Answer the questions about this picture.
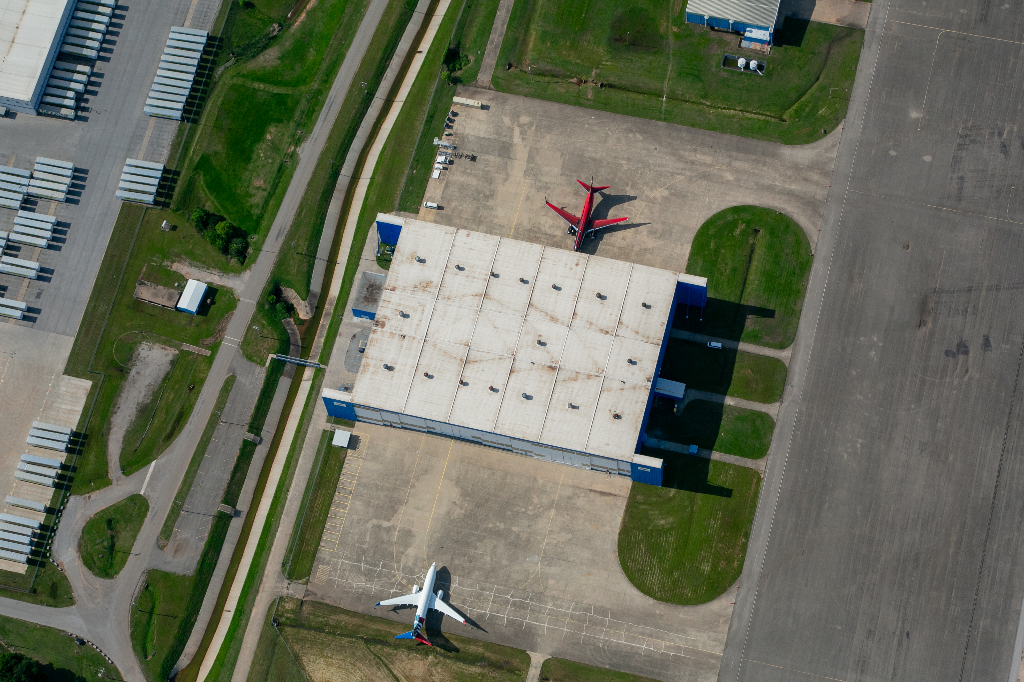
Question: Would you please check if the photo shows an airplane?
Yes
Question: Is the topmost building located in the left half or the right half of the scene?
right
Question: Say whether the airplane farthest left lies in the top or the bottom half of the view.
bottom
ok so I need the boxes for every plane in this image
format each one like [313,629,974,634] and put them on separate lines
[546,178,630,253]
[375,563,466,645]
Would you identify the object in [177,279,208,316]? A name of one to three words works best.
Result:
shed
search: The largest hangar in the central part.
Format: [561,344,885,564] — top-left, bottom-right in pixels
[321,213,708,486]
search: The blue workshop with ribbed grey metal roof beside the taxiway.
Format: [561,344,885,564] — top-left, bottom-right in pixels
[685,0,781,44]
